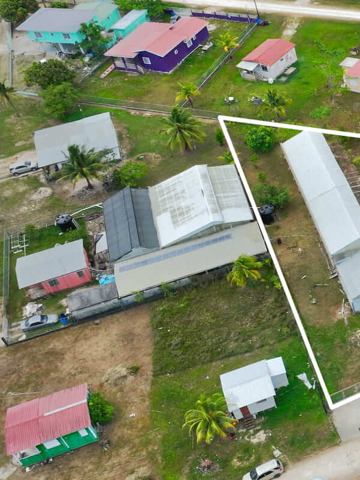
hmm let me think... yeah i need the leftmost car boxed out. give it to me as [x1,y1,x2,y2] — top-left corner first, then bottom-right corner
[7,161,39,177]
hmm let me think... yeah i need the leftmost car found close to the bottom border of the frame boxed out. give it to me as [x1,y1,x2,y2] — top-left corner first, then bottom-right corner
[241,458,285,480]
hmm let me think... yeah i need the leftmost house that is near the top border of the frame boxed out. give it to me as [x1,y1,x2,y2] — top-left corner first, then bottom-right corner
[16,3,101,56]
